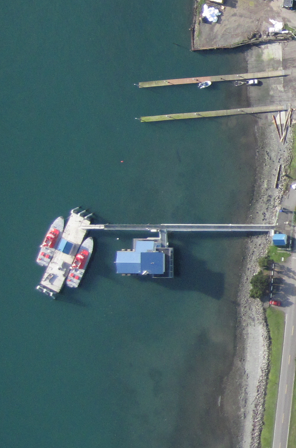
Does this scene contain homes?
Yes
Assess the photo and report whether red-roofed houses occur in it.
No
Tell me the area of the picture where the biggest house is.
center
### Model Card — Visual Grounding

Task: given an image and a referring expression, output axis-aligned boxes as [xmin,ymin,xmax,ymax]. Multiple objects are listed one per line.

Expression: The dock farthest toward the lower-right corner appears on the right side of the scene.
[149,224,275,248]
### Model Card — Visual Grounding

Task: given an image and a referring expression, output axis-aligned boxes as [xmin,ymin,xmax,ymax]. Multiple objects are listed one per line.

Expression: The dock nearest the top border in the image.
[134,70,286,88]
